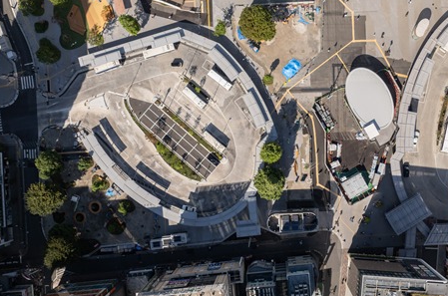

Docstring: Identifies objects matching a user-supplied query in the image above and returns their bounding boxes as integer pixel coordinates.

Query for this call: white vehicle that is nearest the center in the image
[201,131,229,157]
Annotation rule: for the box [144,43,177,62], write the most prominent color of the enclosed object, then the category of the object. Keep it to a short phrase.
white vehicle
